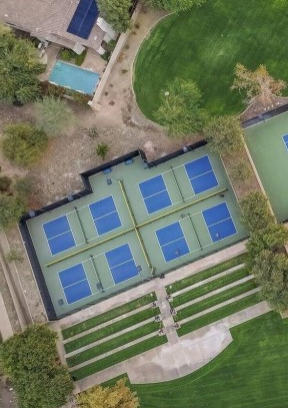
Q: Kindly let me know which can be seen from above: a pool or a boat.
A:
pool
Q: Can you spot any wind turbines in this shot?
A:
No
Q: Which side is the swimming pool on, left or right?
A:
left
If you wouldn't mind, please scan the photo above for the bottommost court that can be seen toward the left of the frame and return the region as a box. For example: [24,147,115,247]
[41,230,154,317]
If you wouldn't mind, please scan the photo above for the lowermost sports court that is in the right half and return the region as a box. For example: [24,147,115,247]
[136,187,249,276]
